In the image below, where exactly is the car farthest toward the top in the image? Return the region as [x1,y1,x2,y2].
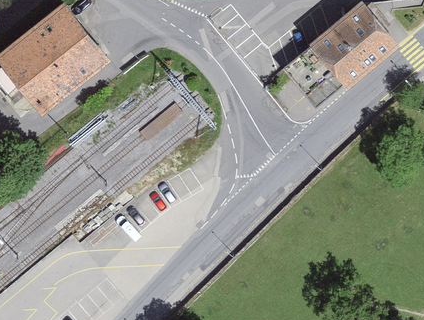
[70,0,94,14]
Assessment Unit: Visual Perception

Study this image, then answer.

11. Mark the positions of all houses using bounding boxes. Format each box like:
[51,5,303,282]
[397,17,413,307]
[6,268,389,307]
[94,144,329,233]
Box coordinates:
[310,0,402,89]
[0,2,111,116]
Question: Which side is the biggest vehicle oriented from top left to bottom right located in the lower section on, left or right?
left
